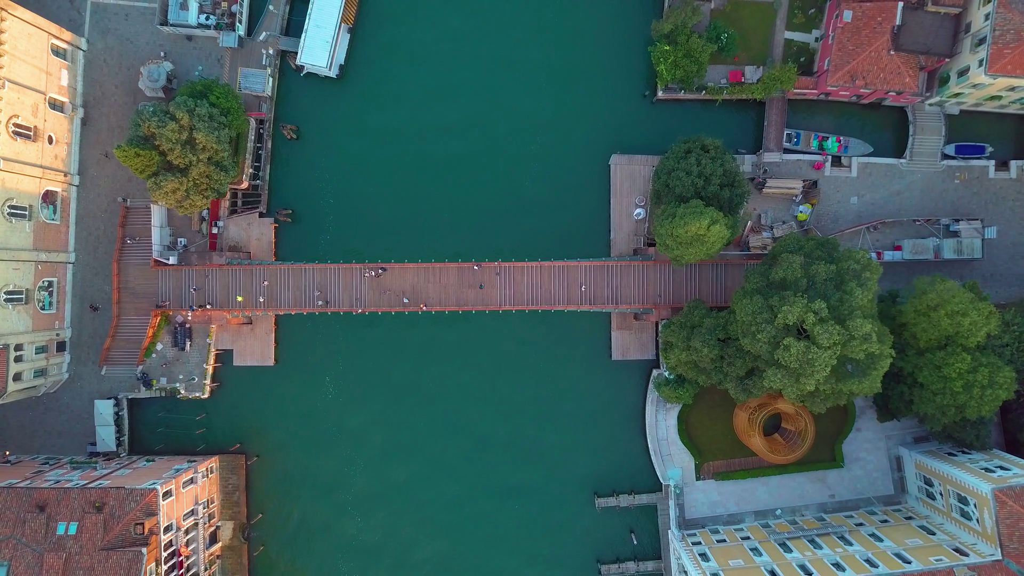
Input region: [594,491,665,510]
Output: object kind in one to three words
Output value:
pier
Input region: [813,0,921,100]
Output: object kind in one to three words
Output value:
house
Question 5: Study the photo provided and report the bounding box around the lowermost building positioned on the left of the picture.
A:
[0,454,220,576]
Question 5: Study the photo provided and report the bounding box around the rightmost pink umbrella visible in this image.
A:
[728,70,742,82]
